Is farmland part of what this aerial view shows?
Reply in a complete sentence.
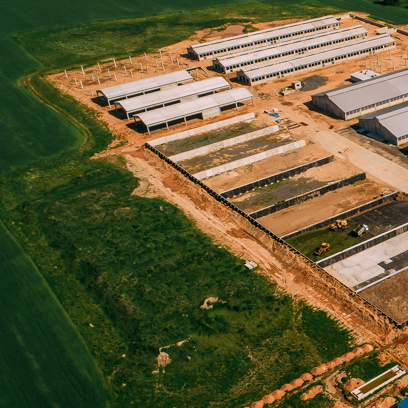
Yes, there is farmland in the image.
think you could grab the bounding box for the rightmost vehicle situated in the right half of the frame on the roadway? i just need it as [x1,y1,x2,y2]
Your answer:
[353,223,371,236]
